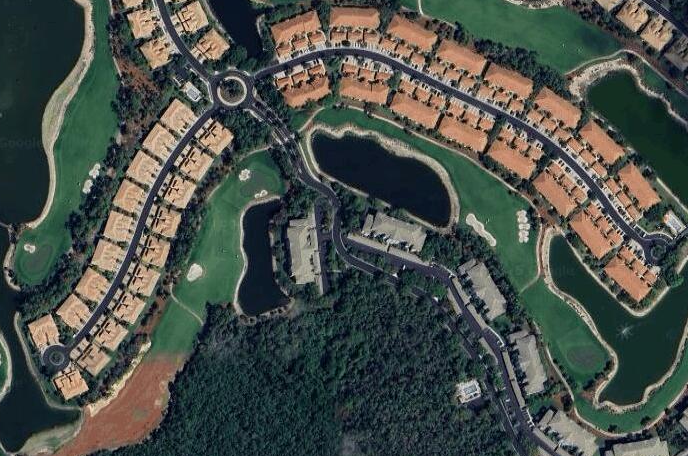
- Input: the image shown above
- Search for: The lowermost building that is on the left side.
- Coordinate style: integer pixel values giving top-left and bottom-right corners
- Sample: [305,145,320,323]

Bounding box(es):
[57,369,88,400]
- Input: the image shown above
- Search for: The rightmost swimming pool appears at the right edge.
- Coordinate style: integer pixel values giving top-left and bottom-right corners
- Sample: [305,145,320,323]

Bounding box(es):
[665,210,686,237]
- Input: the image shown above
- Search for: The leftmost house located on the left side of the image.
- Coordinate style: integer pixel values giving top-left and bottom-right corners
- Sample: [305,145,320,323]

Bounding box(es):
[27,312,59,344]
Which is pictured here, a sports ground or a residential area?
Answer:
residential area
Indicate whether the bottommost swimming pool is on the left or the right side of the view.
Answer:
right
